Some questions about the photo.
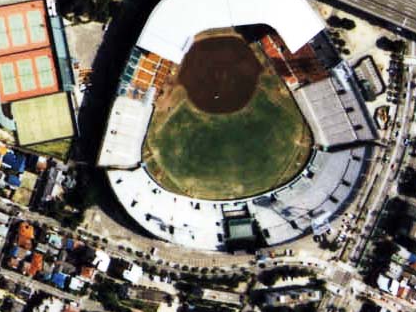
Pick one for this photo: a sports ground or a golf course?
sports ground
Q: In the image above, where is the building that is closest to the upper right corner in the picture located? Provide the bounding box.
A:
[352,58,387,100]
